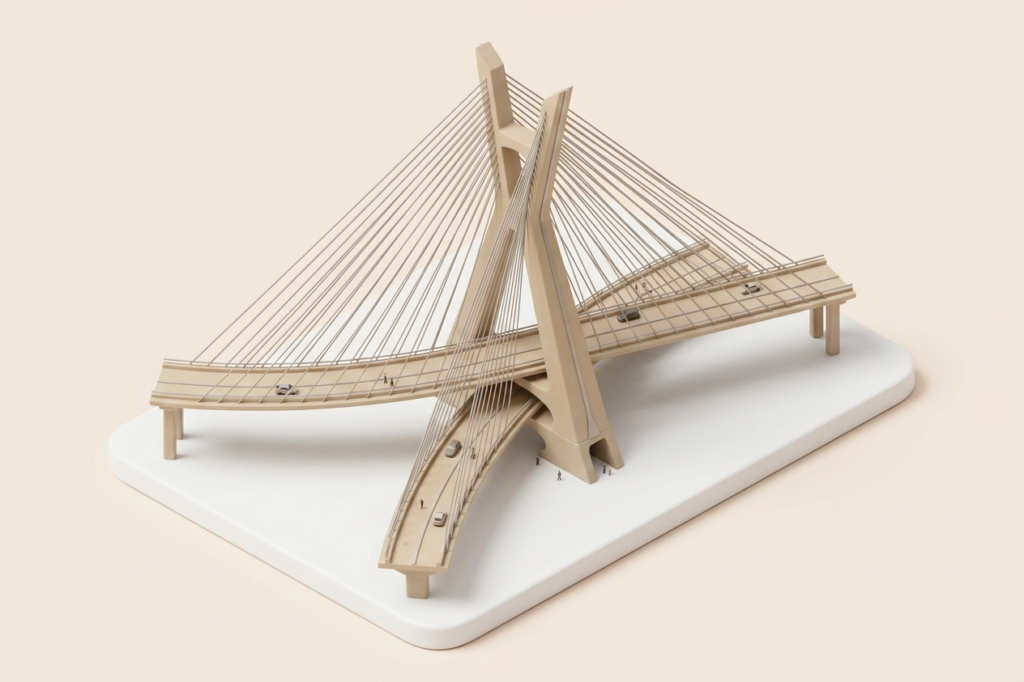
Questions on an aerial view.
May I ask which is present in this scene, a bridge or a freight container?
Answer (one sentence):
There is a bridge in the scene.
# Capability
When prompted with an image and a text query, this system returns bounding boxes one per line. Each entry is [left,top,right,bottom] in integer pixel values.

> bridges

[150,45,855,599]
